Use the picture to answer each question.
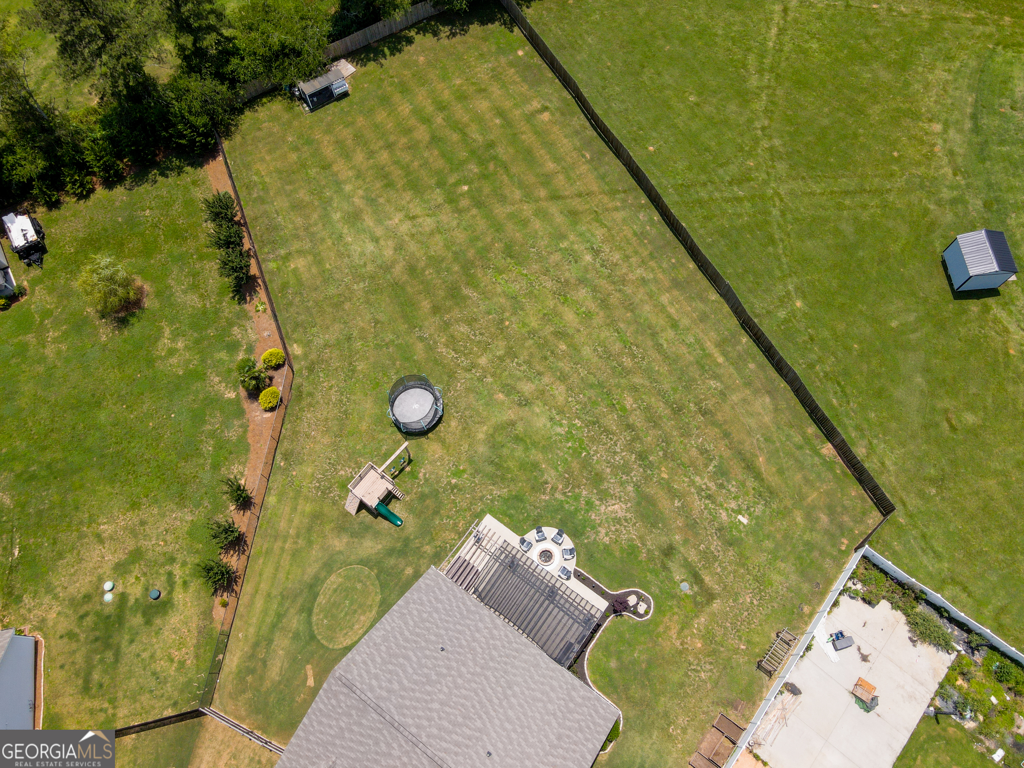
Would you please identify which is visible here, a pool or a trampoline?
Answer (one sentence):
The one in the frame is a trampoline.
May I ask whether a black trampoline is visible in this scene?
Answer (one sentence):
No, there is no black trampoline in the image.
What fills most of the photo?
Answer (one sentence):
What you mostly see from above here is grass.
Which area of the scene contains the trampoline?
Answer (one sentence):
The trampoline appears toward the center of the photo.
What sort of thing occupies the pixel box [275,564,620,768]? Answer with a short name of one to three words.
house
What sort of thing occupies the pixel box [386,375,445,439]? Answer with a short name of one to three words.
trampoline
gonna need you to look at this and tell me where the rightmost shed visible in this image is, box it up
[941,228,1018,291]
